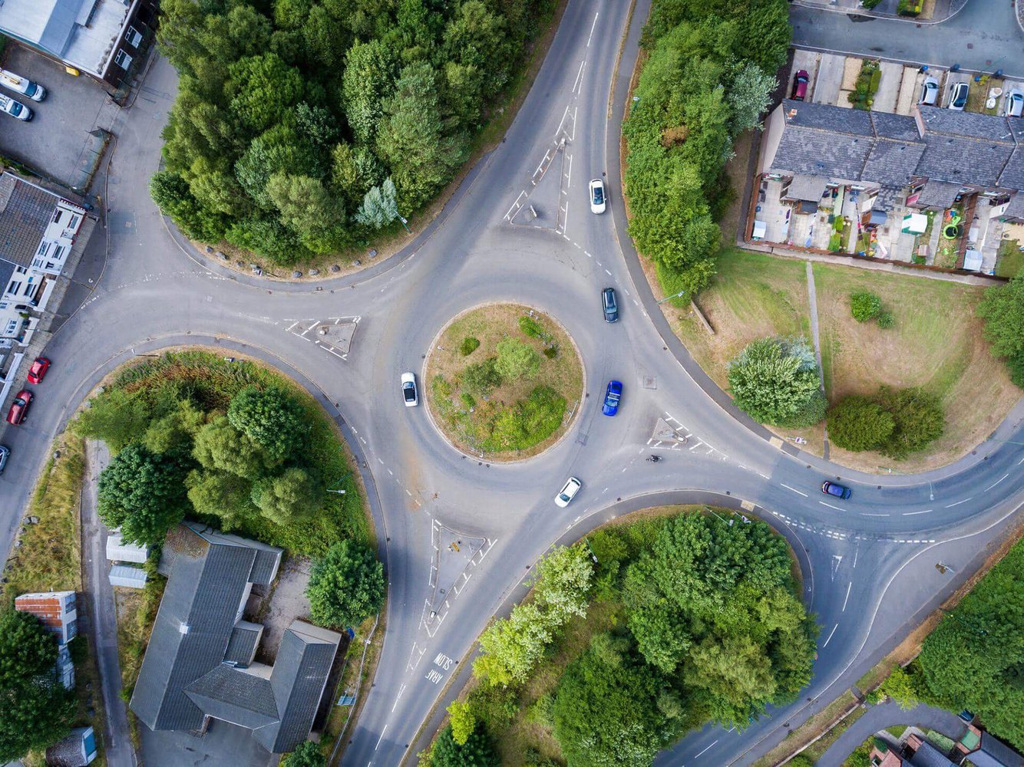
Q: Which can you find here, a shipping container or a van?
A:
van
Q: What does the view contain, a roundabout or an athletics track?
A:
roundabout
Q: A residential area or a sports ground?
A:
residential area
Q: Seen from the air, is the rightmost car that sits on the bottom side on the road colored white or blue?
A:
blue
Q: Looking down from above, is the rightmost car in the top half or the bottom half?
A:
top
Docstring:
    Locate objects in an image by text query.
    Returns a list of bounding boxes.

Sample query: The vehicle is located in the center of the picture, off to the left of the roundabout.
[400,372,418,407]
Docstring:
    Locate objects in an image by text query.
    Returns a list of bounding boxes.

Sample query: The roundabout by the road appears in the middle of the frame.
[422,301,587,466]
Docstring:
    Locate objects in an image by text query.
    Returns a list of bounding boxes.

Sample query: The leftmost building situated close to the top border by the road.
[0,0,162,93]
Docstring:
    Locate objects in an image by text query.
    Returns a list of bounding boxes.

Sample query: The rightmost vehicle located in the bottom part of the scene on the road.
[818,479,850,500]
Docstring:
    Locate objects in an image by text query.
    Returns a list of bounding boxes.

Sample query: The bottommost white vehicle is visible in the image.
[554,475,582,509]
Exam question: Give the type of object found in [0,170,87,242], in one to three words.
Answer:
house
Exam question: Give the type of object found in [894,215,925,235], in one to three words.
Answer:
gazebo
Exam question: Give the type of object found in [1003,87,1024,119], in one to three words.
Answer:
car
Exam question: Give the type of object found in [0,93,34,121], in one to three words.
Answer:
van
